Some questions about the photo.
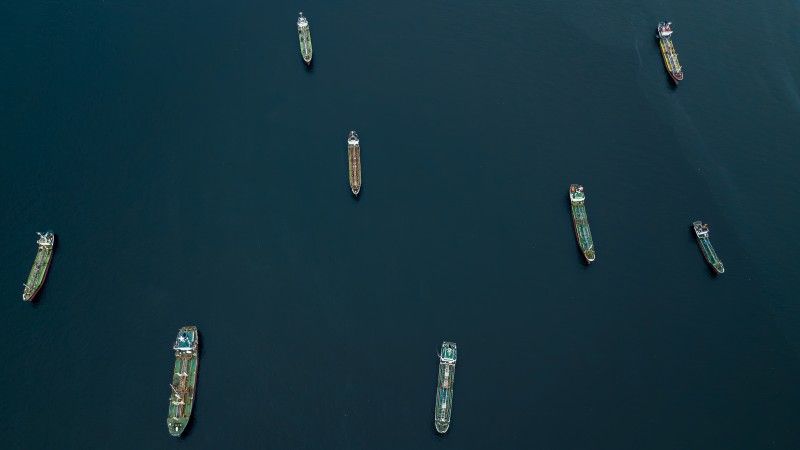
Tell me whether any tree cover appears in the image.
No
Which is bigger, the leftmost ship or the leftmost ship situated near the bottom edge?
the leftmost ship situated near the bottom edge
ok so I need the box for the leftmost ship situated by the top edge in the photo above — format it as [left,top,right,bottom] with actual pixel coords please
[297,13,312,66]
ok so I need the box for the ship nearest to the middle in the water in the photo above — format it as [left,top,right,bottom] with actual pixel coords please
[348,129,361,198]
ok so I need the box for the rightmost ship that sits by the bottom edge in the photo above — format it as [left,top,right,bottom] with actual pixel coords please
[435,341,456,434]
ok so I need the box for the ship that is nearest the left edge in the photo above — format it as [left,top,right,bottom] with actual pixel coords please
[22,230,56,302]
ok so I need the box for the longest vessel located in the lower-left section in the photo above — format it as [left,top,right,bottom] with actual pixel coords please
[168,326,198,439]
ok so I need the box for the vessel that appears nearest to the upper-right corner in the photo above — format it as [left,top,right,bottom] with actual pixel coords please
[658,24,684,83]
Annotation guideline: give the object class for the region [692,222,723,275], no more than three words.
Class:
ship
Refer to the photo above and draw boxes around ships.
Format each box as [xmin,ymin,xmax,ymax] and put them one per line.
[297,13,312,66]
[570,184,595,266]
[435,341,456,434]
[22,230,56,302]
[692,222,723,275]
[348,129,361,198]
[168,326,198,439]
[658,24,684,83]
